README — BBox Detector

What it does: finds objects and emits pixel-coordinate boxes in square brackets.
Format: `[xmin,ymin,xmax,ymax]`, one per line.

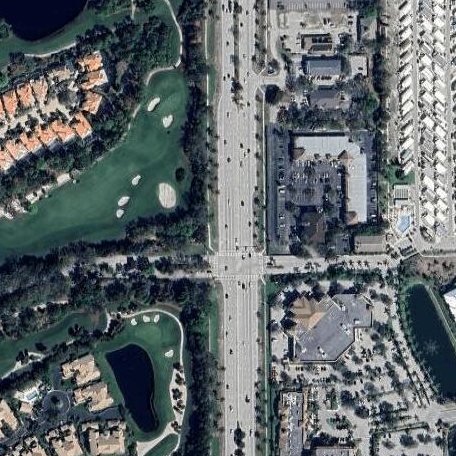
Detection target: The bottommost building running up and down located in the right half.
[279,392,308,456]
